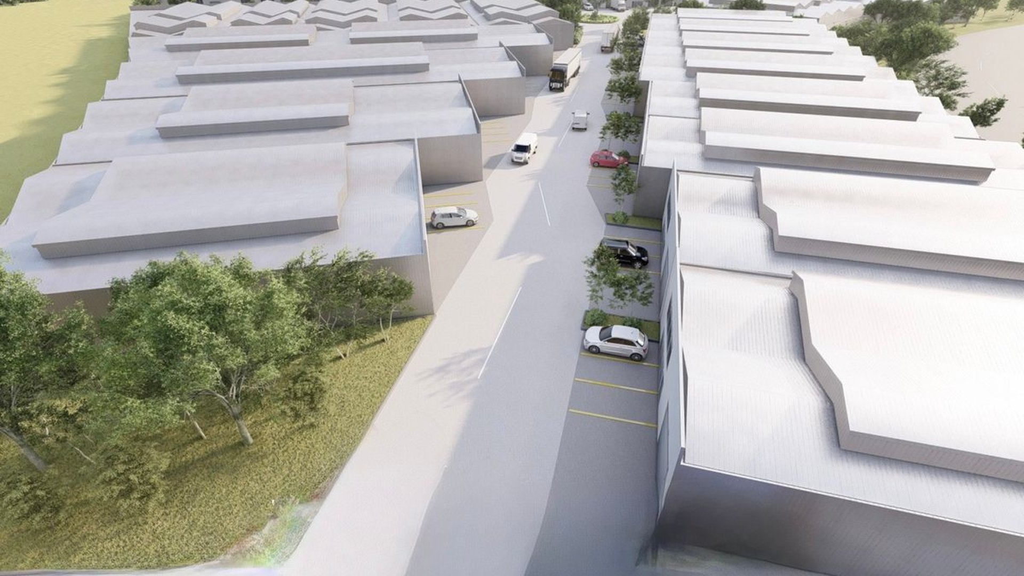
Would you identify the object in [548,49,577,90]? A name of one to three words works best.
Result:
truck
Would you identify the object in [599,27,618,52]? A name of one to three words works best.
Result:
vehicle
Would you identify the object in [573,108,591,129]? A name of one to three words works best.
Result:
vehicle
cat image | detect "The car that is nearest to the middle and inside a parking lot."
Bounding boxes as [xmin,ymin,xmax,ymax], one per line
[433,206,475,228]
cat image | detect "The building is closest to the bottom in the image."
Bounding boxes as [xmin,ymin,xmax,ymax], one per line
[656,253,1024,576]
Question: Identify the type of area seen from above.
industrial area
